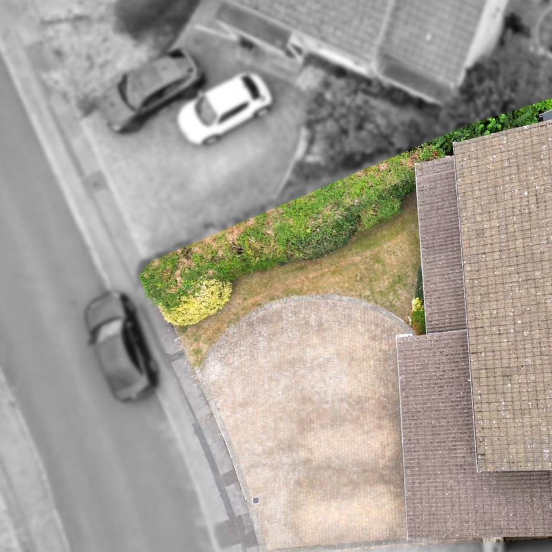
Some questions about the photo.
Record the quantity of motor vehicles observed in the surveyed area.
3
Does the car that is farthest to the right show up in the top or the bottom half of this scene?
top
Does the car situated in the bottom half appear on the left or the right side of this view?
left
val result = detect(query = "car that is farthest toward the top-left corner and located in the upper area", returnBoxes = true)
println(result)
[104,45,207,134]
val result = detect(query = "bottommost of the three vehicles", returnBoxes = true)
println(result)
[87,291,162,403]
